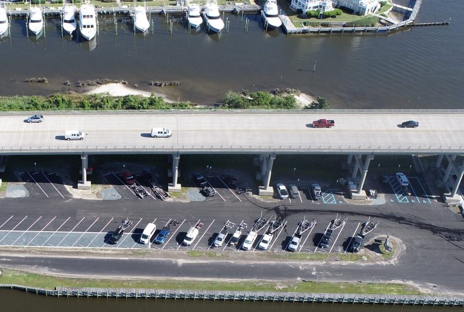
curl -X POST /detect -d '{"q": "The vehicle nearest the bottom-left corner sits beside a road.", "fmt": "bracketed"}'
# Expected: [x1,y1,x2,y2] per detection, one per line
[110,225,128,244]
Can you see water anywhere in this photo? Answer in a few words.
Yes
